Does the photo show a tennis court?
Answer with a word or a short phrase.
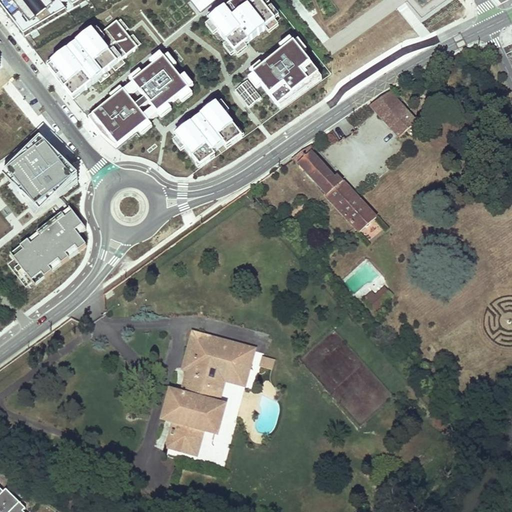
Yes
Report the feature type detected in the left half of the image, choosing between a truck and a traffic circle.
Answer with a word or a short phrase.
traffic circle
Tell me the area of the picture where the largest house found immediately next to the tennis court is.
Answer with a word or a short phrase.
bottom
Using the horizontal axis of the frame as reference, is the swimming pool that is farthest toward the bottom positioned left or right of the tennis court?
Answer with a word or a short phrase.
to its left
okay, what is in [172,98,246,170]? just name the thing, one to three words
house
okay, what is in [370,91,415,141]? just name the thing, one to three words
barn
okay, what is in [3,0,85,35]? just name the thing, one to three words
building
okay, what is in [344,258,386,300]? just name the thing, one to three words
swimming pool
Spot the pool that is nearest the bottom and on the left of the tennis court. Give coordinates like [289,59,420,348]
[239,380,282,444]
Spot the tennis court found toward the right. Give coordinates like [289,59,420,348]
[302,330,391,424]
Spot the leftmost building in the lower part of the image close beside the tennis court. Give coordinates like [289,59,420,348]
[160,329,264,467]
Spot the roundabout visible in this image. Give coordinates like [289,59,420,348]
[92,168,180,246]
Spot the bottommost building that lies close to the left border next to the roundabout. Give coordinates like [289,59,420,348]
[8,207,87,288]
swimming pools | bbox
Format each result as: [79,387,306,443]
[344,258,386,300]
[239,380,282,444]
